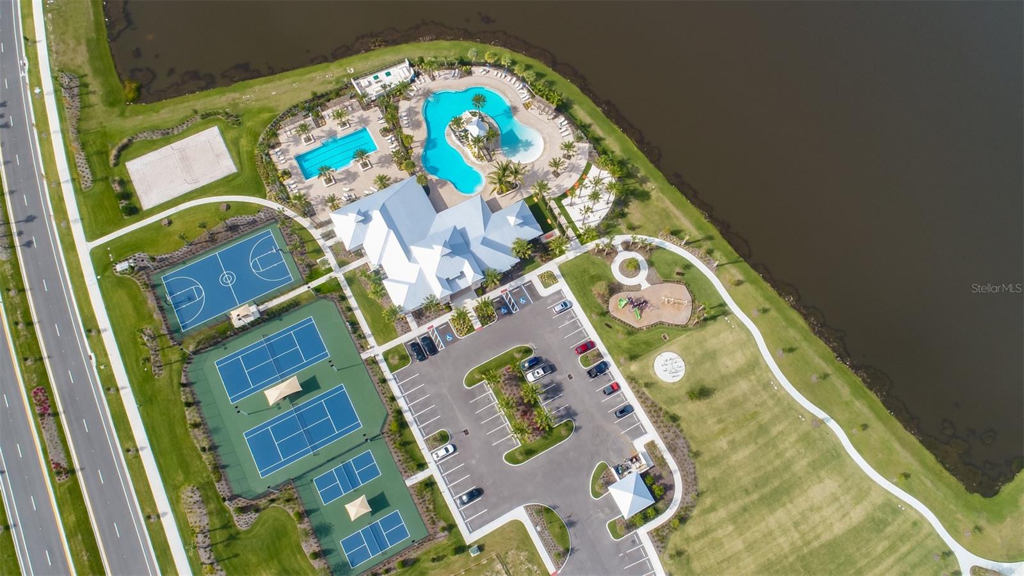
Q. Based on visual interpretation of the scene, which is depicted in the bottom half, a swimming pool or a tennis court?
tennis court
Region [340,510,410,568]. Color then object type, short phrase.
blue sports court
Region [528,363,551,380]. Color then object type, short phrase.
white vehicle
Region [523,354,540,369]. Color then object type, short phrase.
blue car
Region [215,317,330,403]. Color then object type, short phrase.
blue tennis court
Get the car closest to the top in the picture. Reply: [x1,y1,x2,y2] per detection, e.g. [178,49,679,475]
[554,300,573,313]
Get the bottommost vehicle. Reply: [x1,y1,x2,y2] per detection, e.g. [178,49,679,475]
[460,488,481,504]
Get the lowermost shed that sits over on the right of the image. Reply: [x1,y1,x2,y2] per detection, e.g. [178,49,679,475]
[607,473,655,516]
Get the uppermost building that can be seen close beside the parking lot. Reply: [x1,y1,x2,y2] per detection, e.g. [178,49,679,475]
[329,175,543,314]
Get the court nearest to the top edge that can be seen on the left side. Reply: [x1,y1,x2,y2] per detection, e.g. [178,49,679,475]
[125,126,238,211]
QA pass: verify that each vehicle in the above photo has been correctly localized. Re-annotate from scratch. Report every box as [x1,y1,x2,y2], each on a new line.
[554,300,573,313]
[523,354,540,369]
[410,341,425,360]
[460,488,481,504]
[615,403,635,418]
[433,444,454,460]
[586,361,610,377]
[576,340,595,354]
[528,363,551,380]
[600,380,624,397]
[421,335,436,355]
